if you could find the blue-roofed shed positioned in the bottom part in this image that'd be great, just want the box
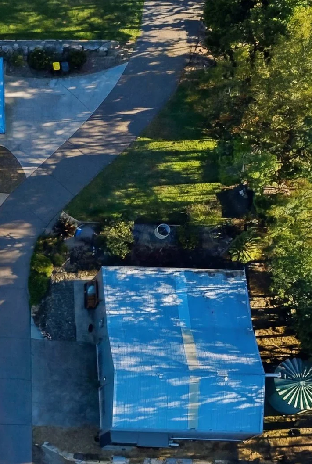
[98,263,282,451]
